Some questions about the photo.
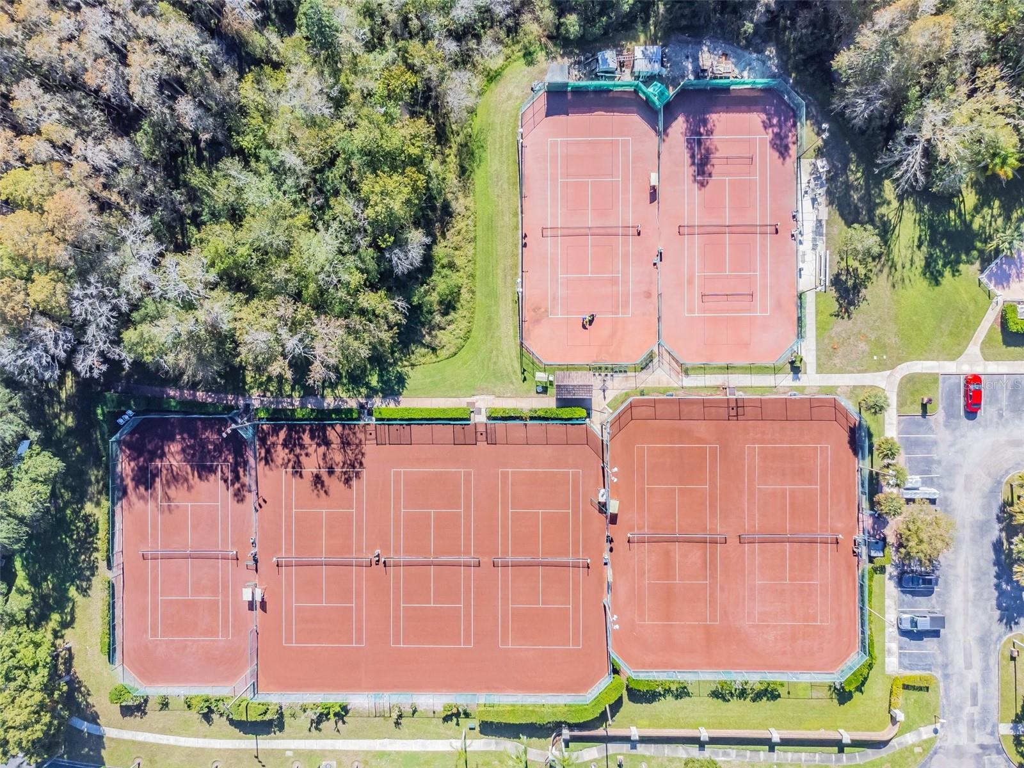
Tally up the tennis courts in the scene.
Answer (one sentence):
I count 8 tennis courts.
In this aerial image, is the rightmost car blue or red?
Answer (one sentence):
In this view, the rightmost car is red.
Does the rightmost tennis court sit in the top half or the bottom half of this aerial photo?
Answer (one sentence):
You can find the rightmost tennis court in the bottom half.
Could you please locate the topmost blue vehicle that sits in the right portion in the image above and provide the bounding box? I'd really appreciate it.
[901,572,942,590]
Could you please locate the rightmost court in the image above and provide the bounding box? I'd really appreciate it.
[732,398,860,672]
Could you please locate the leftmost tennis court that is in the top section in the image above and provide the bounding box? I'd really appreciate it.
[522,90,660,364]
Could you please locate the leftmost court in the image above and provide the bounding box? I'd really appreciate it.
[122,419,257,686]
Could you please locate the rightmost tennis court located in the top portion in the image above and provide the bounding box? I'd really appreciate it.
[660,88,799,364]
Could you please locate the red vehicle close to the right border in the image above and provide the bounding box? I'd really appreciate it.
[964,374,985,411]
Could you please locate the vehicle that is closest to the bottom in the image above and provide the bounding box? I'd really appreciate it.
[897,614,946,633]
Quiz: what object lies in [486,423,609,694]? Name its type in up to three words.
tennis court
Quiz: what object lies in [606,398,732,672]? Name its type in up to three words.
tennis court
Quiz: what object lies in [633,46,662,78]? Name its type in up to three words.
shed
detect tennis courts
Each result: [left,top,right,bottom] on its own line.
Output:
[122,419,257,686]
[258,423,378,694]
[606,398,732,672]
[660,88,799,364]
[732,398,860,672]
[378,423,486,694]
[522,90,660,364]
[486,423,609,694]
